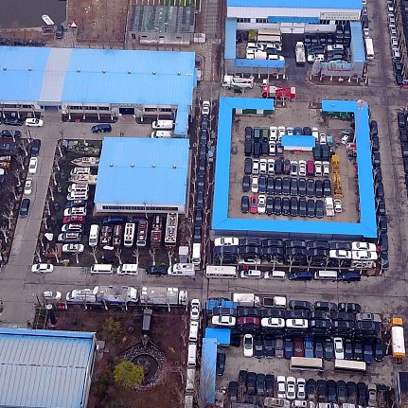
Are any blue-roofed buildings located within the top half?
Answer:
Yes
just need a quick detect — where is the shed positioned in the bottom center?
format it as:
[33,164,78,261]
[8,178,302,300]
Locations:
[201,337,216,407]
